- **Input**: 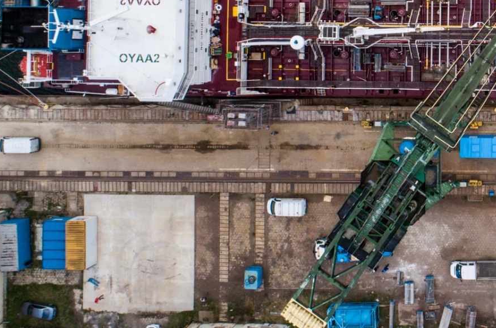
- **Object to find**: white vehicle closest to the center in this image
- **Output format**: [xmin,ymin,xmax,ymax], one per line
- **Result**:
[270,196,310,215]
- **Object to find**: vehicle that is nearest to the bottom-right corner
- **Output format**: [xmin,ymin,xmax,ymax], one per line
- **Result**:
[452,258,496,278]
